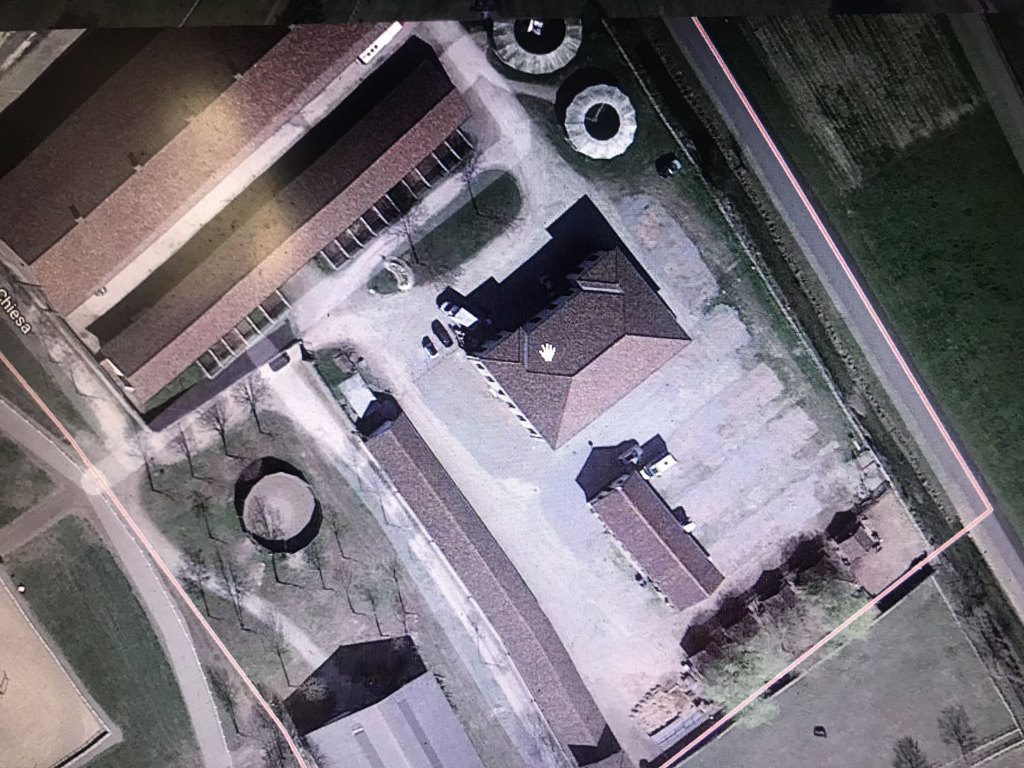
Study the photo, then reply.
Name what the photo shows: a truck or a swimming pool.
truck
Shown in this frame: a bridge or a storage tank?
storage tank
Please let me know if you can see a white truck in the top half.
Yes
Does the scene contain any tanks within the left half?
Yes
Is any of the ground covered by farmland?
Yes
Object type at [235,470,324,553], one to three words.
storage tank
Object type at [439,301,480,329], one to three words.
truck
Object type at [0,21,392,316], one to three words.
barn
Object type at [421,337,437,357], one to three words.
car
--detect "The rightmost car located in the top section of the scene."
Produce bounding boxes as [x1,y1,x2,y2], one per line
[661,160,679,176]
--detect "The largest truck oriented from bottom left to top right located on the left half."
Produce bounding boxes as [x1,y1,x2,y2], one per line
[359,16,407,63]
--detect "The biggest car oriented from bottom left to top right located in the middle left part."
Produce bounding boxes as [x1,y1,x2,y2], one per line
[268,352,290,369]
